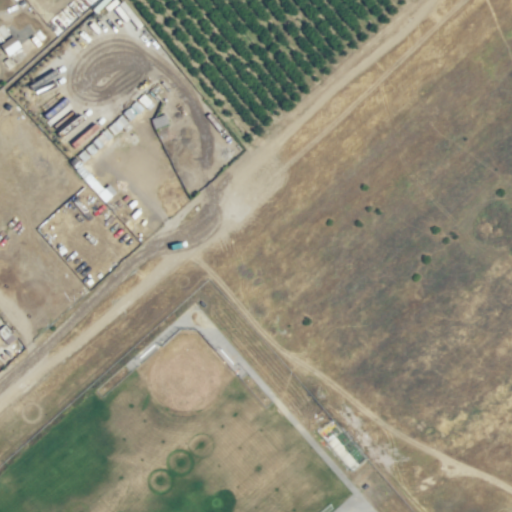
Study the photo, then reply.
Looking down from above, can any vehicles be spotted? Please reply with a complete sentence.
Yes, I can see a vehicle in this picture.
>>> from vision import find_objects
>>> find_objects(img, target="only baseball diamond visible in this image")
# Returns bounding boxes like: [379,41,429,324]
[0,329,351,512]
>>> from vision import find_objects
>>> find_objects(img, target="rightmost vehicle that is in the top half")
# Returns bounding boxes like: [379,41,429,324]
[205,113,231,140]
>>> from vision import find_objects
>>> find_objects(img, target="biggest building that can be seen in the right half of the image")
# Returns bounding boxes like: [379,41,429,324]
[330,436,360,471]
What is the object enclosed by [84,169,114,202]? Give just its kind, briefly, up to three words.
building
